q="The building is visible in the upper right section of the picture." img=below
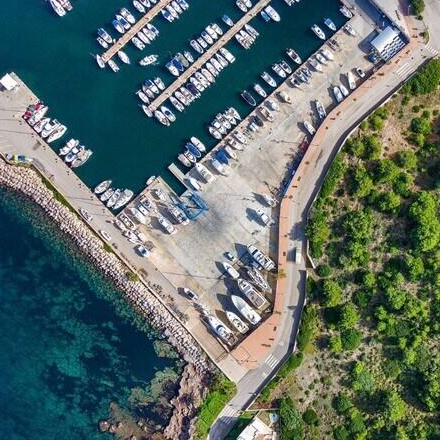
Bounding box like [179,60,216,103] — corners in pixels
[370,26,407,64]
